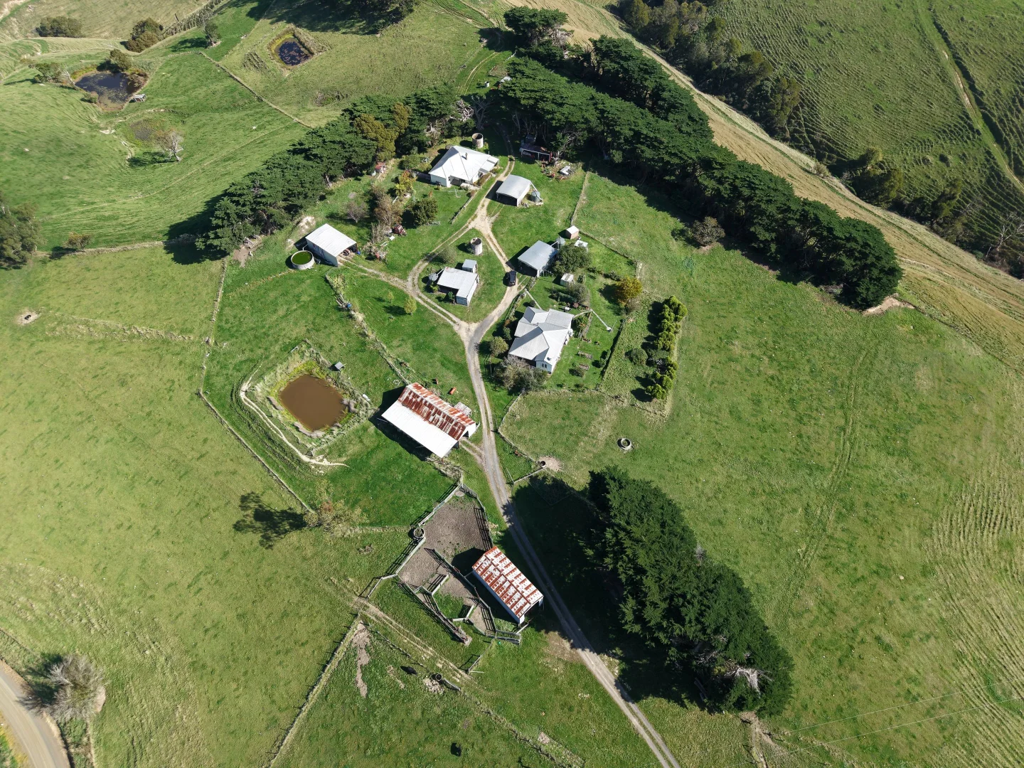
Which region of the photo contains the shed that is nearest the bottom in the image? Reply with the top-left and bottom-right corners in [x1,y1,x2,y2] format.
[471,546,545,623]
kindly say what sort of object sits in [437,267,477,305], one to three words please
shed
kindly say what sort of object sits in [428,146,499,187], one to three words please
house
